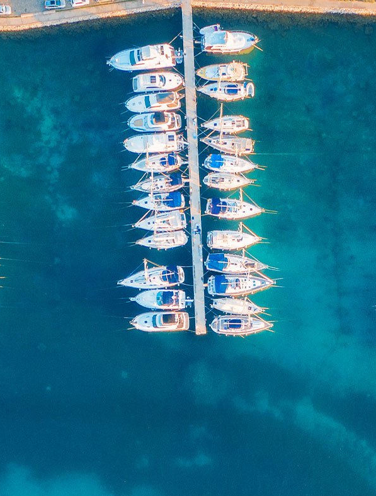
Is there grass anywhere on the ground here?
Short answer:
No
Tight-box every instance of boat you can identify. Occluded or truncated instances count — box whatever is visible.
[197,65,246,82]
[199,104,258,134]
[192,27,263,53]
[118,260,195,290]
[123,184,195,212]
[200,120,264,157]
[119,165,193,193]
[195,247,273,274]
[197,68,254,100]
[136,224,199,250]
[125,72,186,94]
[193,163,259,191]
[124,110,192,132]
[198,265,283,295]
[97,41,187,73]
[121,141,190,173]
[197,222,273,250]
[115,91,184,114]
[194,144,260,173]
[206,309,277,335]
[121,206,195,232]
[203,293,276,316]
[127,287,196,311]
[195,189,272,221]
[112,131,193,154]
[120,308,199,332]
